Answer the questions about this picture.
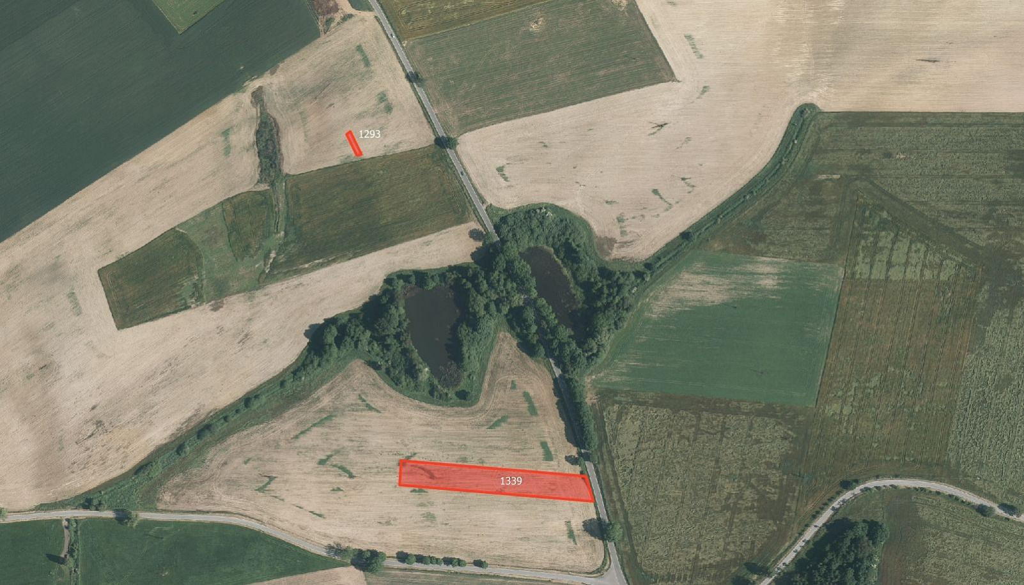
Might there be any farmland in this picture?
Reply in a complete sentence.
Yes, there is farmland in the image.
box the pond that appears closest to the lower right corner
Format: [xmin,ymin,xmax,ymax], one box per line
[522,244,582,342]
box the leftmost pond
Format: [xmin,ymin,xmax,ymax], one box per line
[404,286,471,390]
